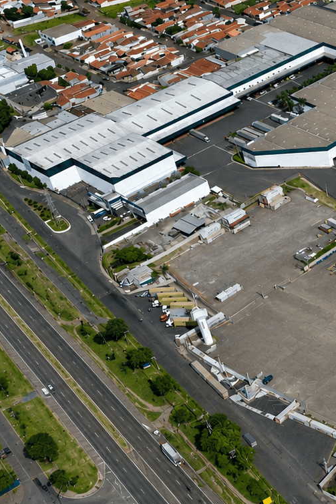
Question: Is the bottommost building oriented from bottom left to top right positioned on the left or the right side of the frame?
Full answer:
It is on the right.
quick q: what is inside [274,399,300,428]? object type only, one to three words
building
